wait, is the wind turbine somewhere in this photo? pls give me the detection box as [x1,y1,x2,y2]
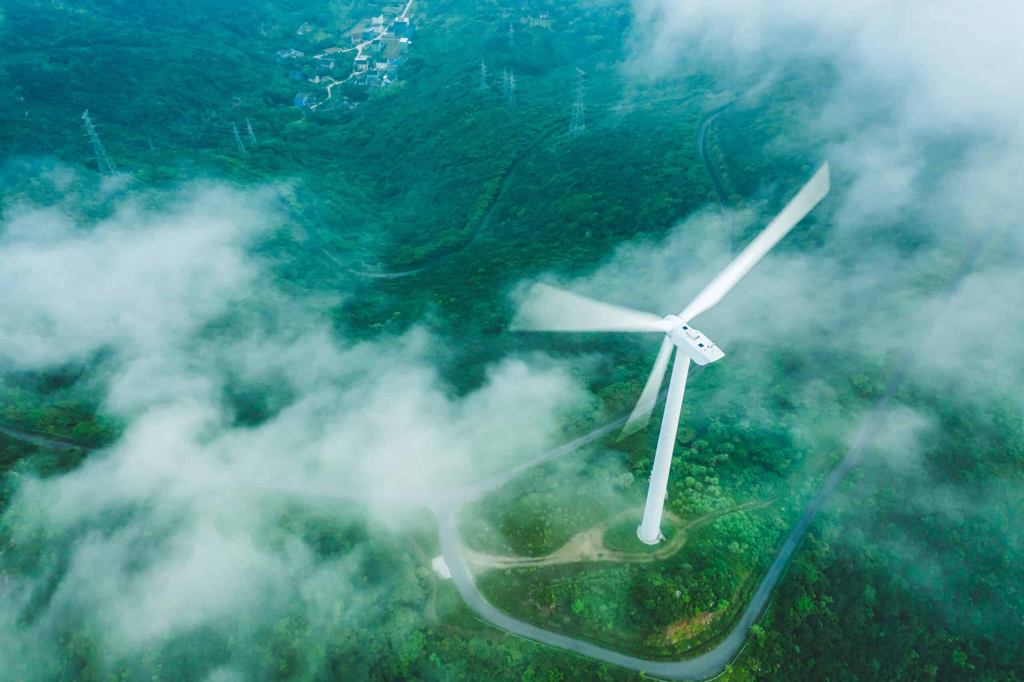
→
[521,177,827,544]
